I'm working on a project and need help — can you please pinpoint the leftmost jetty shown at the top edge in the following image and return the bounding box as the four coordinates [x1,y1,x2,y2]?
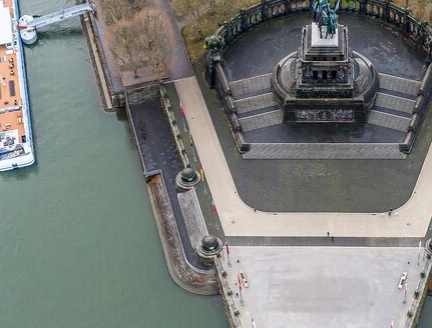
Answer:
[18,16,40,39]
